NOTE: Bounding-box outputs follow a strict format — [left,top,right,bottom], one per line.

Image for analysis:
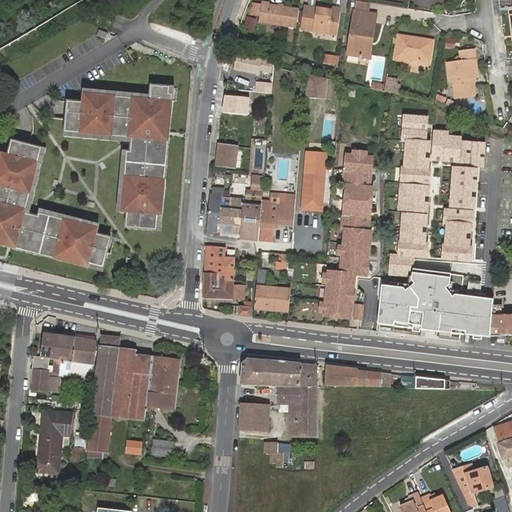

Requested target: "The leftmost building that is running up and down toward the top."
[0,136,46,249]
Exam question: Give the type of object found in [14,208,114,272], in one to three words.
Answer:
building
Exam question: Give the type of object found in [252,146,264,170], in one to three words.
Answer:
swimming pool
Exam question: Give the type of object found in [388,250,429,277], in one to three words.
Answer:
house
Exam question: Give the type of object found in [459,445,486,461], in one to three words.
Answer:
swimming pool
